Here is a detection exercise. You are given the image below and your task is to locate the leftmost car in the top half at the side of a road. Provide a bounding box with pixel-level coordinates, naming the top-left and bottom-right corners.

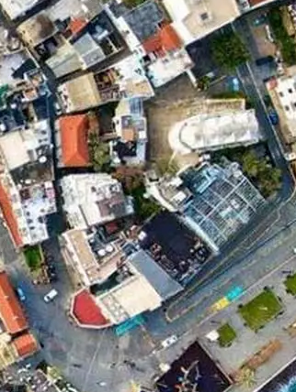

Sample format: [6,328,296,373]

[229,72,243,91]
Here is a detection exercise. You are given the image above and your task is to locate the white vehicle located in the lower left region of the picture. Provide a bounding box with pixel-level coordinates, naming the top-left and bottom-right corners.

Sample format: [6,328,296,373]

[42,287,59,303]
